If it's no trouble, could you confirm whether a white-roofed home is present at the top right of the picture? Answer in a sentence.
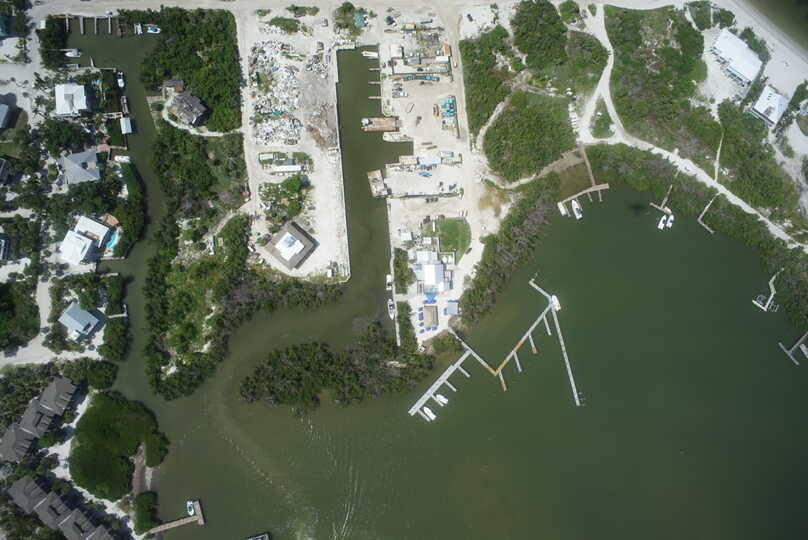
Yes, the scene does show a white-roofed home at the top right of the picture.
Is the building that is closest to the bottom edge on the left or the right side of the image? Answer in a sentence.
It is on the left.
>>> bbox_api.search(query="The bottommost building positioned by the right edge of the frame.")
[746,85,788,129]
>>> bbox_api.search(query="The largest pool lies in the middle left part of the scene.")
[105,228,119,250]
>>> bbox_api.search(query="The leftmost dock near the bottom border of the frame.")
[149,499,205,534]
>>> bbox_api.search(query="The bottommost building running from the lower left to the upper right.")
[0,376,84,462]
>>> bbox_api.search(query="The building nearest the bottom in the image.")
[9,471,129,540]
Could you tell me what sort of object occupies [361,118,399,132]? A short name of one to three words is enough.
ship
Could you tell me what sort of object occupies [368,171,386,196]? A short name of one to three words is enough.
ship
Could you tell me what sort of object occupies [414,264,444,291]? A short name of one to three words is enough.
building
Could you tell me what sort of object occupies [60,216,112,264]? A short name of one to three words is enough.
house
